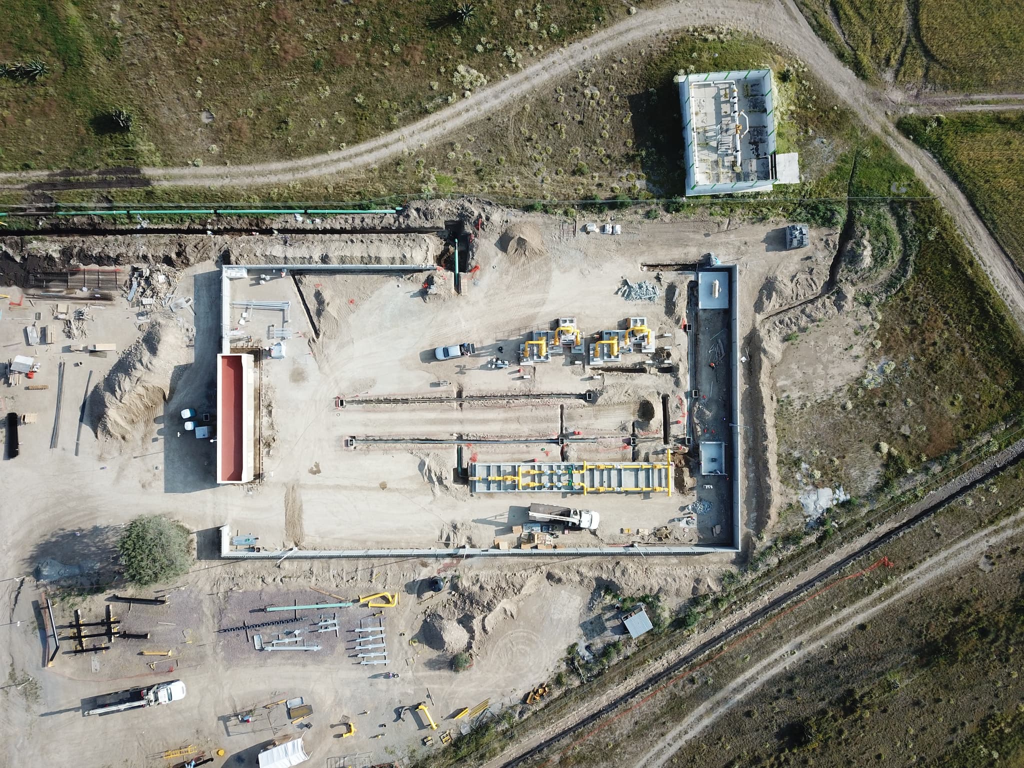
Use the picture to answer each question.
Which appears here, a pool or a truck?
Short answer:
truck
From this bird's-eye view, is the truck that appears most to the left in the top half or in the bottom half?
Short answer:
bottom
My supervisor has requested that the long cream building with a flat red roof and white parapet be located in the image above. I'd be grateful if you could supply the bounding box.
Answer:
[212,353,262,484]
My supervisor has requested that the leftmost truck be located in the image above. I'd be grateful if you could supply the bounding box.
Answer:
[83,680,190,717]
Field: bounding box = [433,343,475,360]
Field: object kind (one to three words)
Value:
vehicle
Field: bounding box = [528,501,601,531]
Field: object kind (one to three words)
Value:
truck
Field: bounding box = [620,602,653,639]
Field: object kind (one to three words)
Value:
shed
